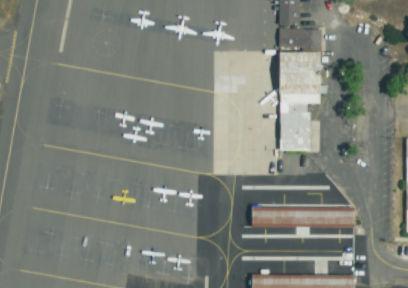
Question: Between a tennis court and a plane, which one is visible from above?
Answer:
plane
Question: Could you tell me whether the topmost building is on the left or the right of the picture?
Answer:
right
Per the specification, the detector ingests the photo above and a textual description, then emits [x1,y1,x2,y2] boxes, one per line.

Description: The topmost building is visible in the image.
[280,0,300,26]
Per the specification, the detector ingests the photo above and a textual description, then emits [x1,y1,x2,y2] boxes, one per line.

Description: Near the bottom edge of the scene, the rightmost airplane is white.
[166,256,192,274]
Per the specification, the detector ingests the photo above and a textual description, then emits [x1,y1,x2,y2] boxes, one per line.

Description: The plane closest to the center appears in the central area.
[192,128,210,144]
